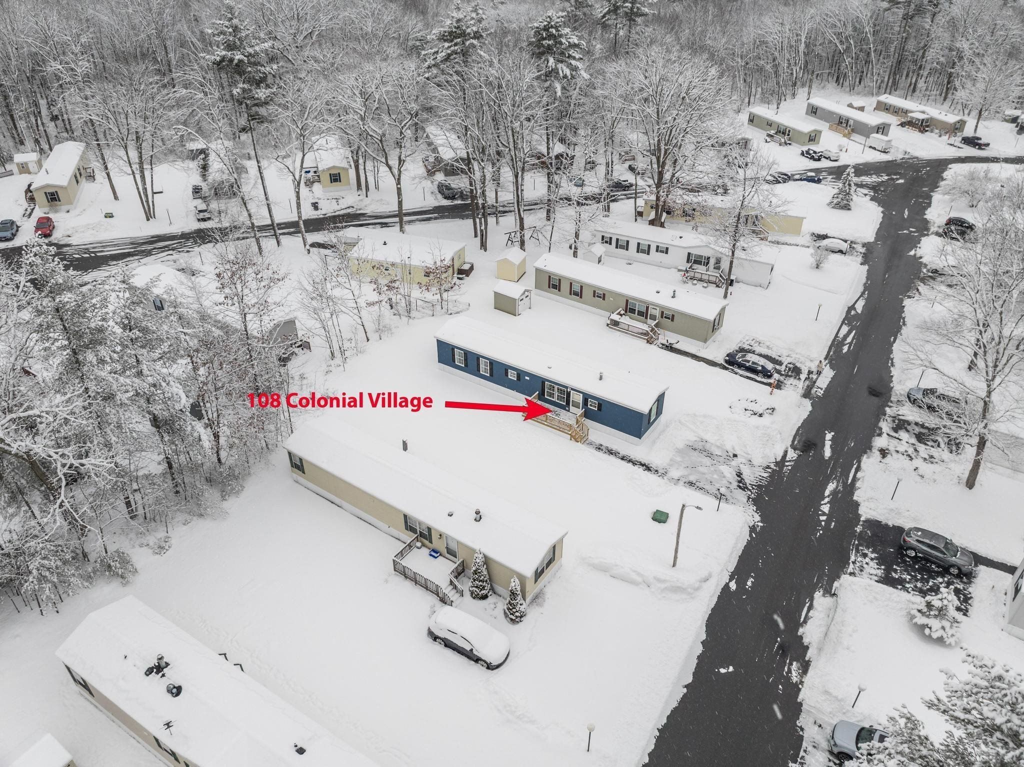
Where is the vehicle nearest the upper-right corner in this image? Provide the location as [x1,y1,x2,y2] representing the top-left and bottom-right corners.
[959,138,991,151]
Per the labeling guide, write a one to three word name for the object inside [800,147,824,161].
car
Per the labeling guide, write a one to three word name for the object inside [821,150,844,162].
vehicle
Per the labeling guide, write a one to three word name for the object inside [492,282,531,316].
shed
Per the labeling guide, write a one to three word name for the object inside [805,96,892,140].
house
